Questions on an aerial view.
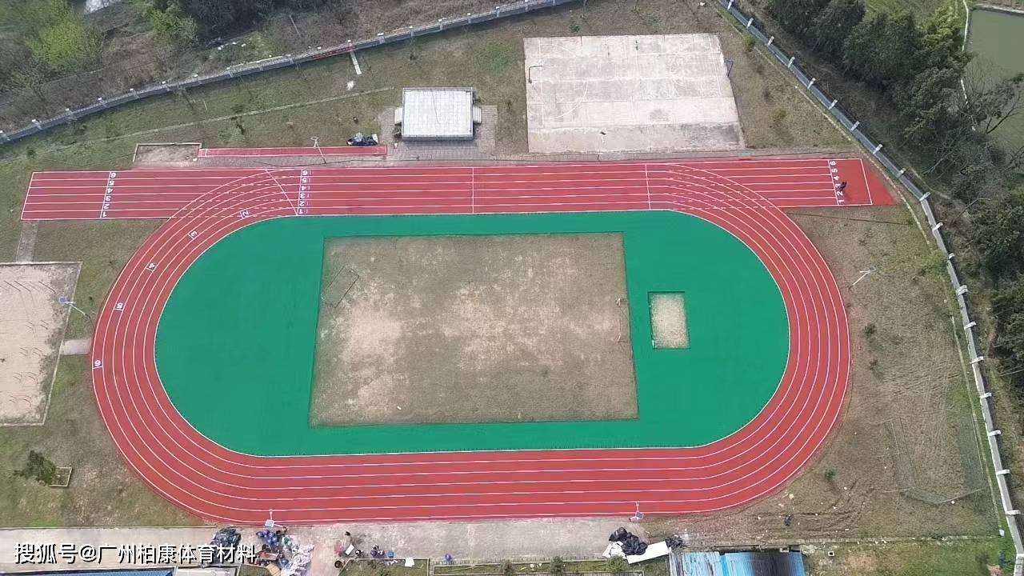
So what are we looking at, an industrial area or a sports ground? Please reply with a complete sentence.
The area seen from above is a sports ground.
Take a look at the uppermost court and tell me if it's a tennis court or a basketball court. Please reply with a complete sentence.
The uppermost court is a basketball court.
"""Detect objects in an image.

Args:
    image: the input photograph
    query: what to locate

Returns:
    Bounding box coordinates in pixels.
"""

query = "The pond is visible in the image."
[965,9,1024,174]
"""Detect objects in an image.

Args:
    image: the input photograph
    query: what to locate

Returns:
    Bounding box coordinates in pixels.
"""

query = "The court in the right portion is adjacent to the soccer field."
[524,33,745,152]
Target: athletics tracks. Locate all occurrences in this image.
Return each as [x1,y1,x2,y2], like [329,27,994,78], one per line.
[15,157,894,531]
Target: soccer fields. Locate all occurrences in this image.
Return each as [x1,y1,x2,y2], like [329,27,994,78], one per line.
[310,233,638,425]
